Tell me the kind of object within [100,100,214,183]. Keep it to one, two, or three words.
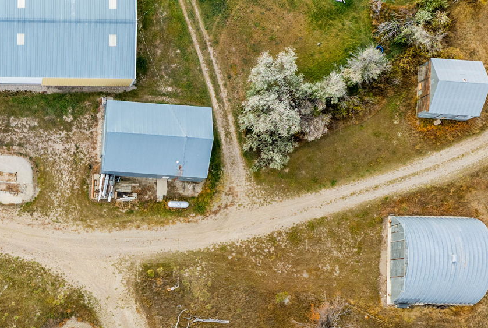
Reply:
building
